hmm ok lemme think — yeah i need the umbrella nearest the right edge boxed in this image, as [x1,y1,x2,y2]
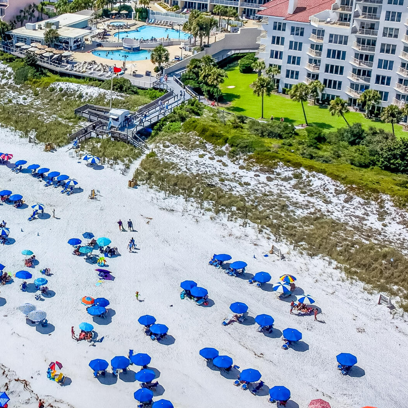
[336,355,357,370]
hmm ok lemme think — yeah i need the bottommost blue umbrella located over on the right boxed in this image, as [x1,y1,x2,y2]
[268,388,292,402]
